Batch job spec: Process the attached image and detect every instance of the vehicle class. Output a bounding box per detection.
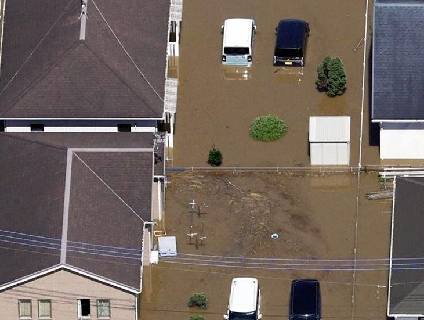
[285,278,324,320]
[220,19,258,65]
[222,275,263,320]
[272,17,311,65]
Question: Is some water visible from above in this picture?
Yes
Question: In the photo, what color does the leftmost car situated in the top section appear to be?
white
